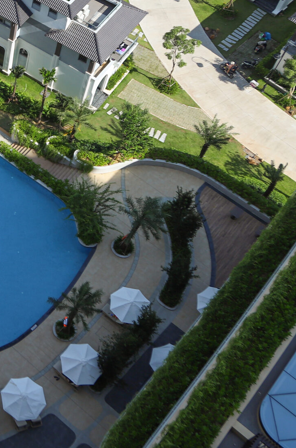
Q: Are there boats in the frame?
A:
No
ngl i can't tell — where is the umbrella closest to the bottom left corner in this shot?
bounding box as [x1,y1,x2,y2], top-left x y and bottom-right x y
[1,377,46,424]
